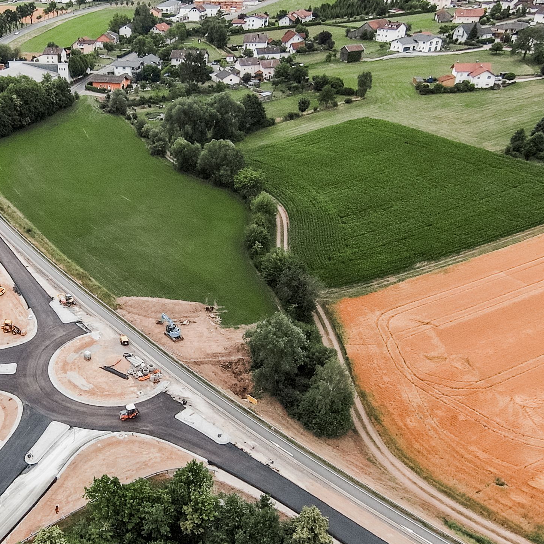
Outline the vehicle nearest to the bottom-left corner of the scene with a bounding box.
[116,400,144,422]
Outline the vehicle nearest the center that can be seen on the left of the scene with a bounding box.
[154,305,186,345]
